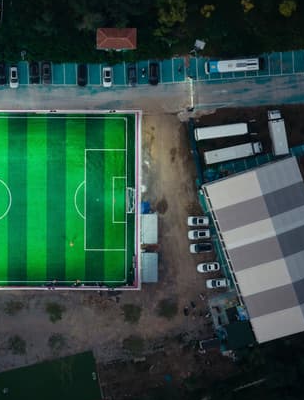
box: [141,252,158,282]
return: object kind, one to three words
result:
building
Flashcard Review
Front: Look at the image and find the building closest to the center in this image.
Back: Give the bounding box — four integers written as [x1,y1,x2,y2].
[141,214,158,244]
